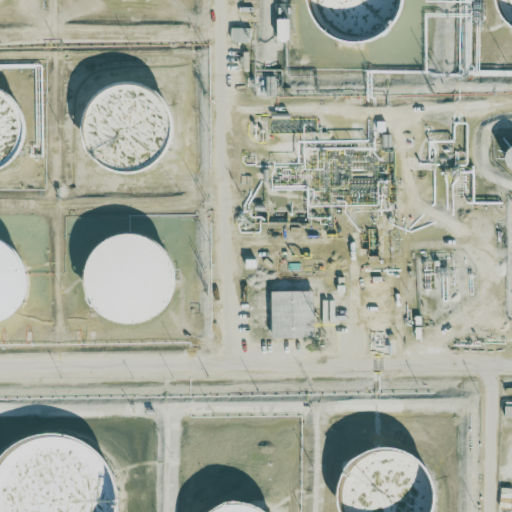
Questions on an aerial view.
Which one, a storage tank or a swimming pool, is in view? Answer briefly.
storage tank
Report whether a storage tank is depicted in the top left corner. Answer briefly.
Yes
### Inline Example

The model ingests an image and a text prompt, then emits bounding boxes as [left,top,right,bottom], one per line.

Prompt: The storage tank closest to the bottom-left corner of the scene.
[0,432,120,512]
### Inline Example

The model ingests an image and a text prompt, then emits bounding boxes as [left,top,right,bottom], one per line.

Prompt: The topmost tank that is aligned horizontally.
[308,0,405,42]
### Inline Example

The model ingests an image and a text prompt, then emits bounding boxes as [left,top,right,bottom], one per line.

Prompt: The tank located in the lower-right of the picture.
[336,446,436,512]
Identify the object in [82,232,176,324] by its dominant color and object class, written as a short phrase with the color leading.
white storage tank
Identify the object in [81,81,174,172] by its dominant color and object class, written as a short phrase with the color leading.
white storage tank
